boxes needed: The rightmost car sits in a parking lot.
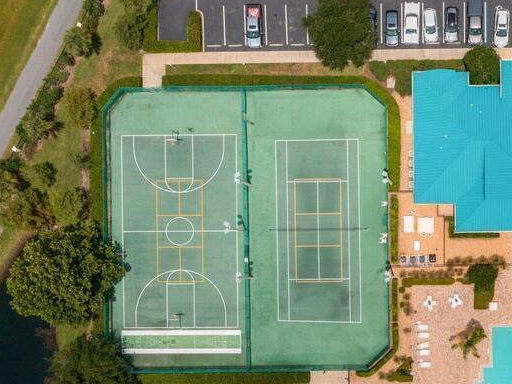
[494,7,510,48]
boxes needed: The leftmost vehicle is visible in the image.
[245,4,263,49]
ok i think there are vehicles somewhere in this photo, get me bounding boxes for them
[245,4,263,49]
[424,8,439,44]
[385,10,400,47]
[444,7,459,44]
[467,0,484,46]
[494,7,510,48]
[403,2,420,45]
[366,7,379,43]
